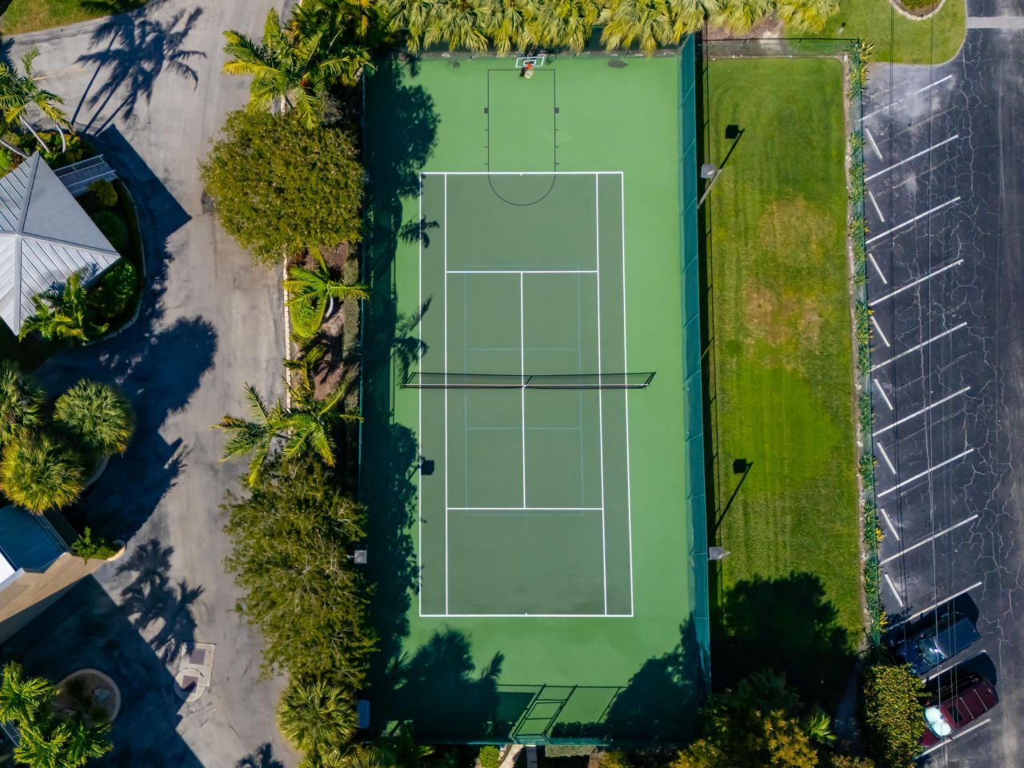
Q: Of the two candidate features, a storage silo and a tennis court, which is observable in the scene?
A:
tennis court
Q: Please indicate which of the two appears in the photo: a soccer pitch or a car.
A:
car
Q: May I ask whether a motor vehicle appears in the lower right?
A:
Yes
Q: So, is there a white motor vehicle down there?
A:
No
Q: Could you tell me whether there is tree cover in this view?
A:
Yes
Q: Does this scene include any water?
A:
No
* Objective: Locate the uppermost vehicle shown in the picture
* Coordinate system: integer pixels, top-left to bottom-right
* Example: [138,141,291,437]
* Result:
[891,610,984,679]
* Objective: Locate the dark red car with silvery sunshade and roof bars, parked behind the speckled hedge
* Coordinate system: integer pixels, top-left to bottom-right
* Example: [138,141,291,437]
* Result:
[918,674,1003,749]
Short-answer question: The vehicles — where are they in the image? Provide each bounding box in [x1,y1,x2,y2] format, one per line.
[891,610,984,679]
[918,674,1003,749]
